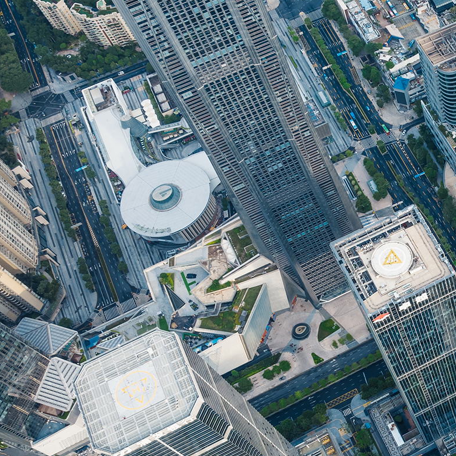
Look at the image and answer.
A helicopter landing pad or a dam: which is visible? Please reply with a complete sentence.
Of the two, only a helicopter landing pad appears.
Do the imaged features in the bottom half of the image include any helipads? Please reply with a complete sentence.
Yes, a helipad can be seen in the bottom half of the image.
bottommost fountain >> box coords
[290,320,311,340]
